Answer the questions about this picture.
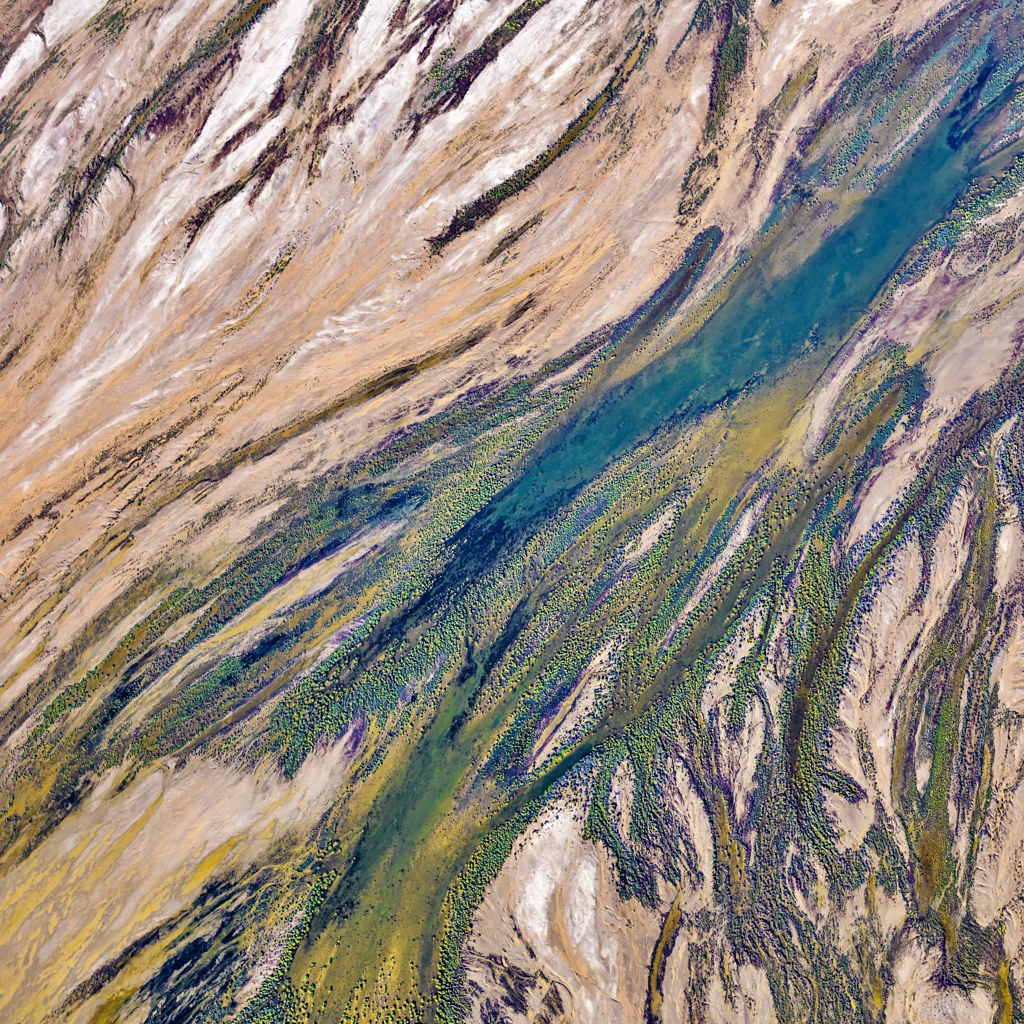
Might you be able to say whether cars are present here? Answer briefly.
No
